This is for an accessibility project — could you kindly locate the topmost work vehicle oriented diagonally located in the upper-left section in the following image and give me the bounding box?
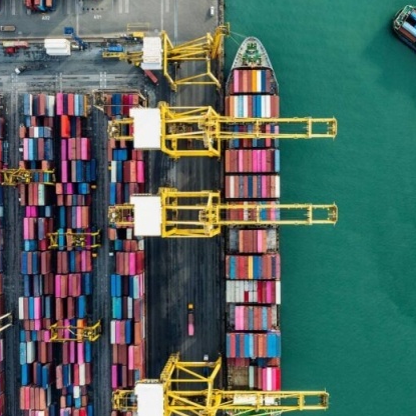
[62,24,88,54]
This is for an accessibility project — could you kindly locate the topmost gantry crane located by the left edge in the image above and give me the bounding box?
[5,168,63,185]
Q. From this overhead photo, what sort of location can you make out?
port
